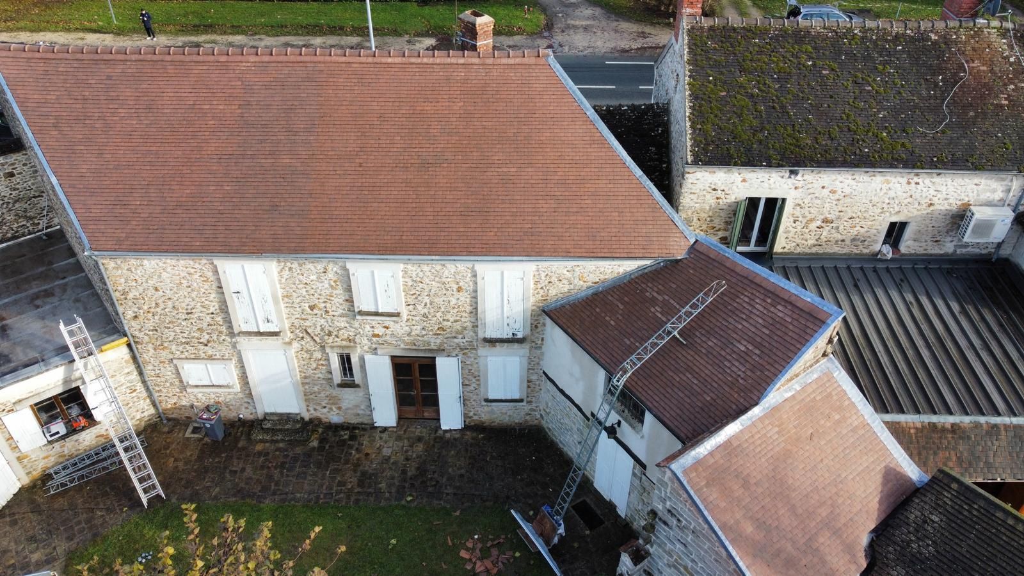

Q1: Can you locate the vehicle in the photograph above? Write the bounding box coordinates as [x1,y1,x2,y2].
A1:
[786,0,860,20]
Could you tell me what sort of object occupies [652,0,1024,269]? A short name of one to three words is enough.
house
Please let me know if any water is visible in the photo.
No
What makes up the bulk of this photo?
buildings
